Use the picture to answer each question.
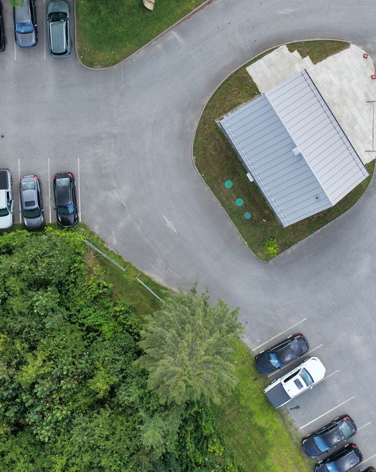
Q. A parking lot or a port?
parking lot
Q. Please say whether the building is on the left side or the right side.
right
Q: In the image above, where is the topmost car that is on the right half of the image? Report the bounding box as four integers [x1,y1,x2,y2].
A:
[256,333,308,373]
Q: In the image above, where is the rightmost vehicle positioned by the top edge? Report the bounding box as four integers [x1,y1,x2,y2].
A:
[45,0,72,58]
